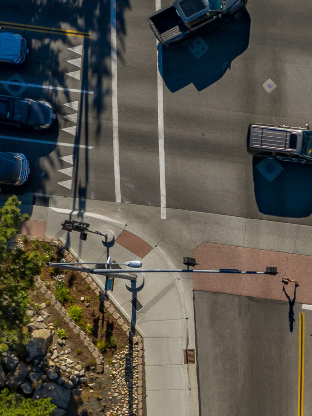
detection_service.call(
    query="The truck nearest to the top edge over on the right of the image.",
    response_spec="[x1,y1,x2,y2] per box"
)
[148,0,251,49]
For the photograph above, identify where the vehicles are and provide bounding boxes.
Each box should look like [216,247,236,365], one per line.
[245,122,312,164]
[0,150,33,185]
[148,0,251,49]
[0,90,59,132]
[0,31,30,67]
